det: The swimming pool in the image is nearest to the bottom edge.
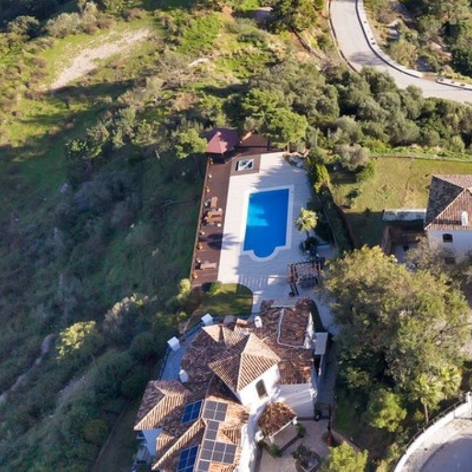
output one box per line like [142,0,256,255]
[240,185,294,262]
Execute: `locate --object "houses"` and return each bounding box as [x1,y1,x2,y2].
[131,298,327,472]
[411,174,472,273]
